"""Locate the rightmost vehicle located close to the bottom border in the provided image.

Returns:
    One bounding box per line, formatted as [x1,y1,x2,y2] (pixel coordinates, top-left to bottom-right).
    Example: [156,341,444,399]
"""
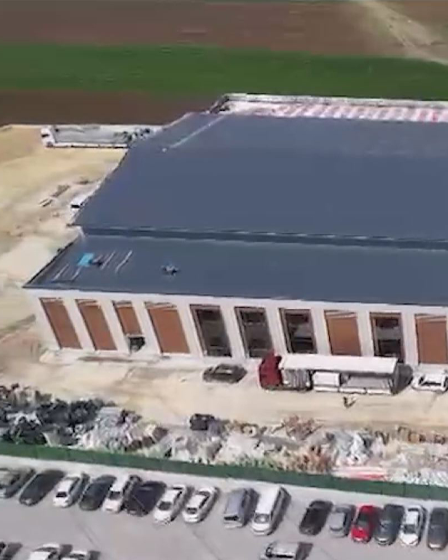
[424,504,448,553]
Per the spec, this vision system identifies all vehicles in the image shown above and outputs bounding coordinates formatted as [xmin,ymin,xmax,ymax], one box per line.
[49,471,93,509]
[76,474,118,513]
[326,500,358,542]
[152,481,193,525]
[298,497,332,539]
[0,461,38,503]
[424,504,448,553]
[255,540,309,560]
[201,363,247,385]
[412,372,448,393]
[100,473,143,516]
[248,482,291,537]
[399,502,427,548]
[180,483,220,527]
[350,502,382,544]
[375,502,404,548]
[16,465,66,508]
[64,193,95,215]
[219,480,263,534]
[253,344,401,394]
[124,474,169,519]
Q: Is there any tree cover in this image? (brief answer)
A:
No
